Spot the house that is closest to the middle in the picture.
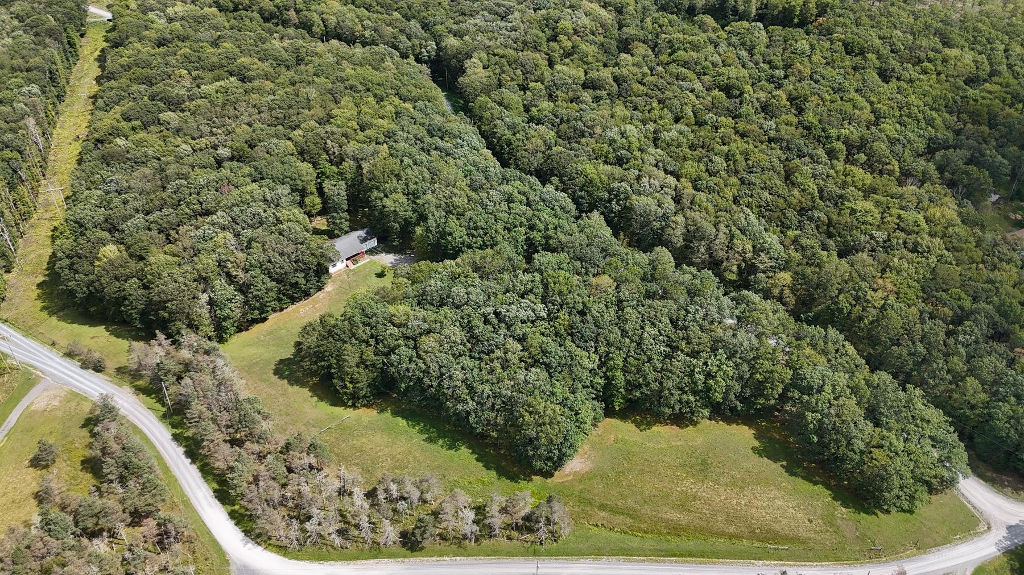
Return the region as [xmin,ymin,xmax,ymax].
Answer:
[326,227,379,273]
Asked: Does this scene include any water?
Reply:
No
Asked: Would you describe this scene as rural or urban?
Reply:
rural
